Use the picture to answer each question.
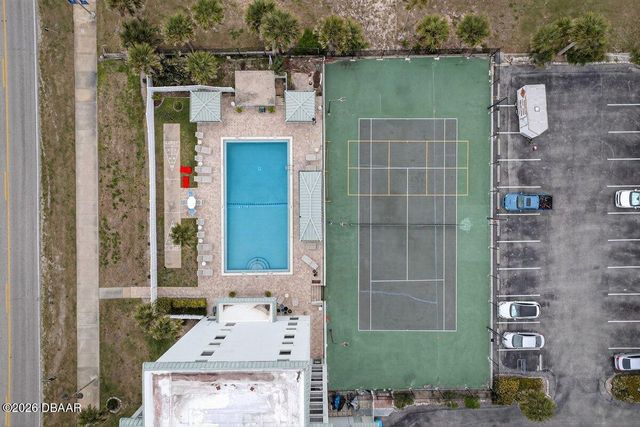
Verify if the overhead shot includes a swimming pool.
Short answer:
Yes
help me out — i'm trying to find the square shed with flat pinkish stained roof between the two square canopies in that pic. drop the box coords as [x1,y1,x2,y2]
[235,71,276,108]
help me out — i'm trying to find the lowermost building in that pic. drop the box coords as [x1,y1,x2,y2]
[114,294,338,427]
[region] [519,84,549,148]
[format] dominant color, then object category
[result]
white trailer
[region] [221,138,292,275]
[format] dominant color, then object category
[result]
blue swimming pool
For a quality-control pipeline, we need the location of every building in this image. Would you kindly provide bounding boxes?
[114,294,338,427]
[235,71,276,108]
